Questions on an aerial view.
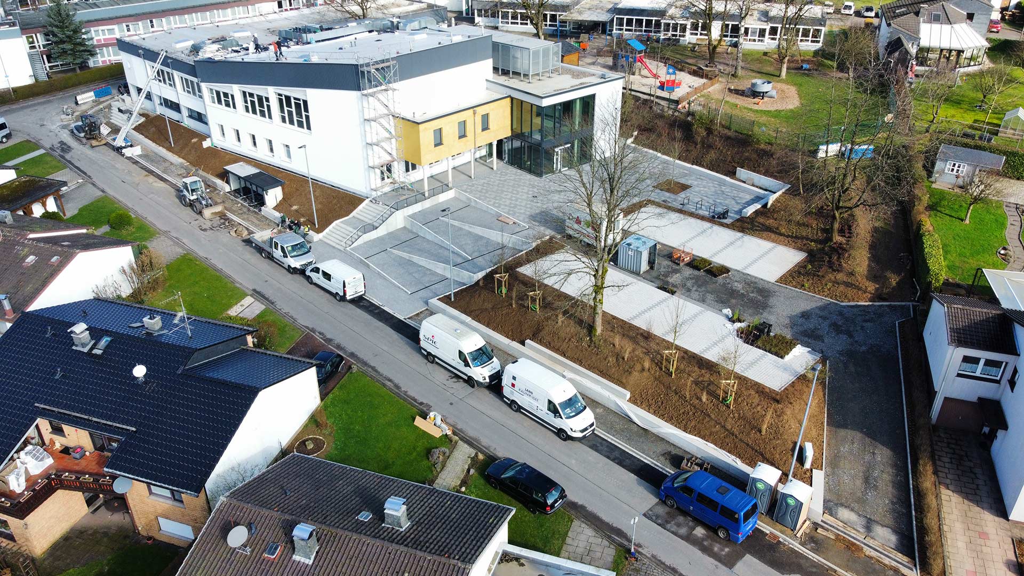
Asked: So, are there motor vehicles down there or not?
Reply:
Yes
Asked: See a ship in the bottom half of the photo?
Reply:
No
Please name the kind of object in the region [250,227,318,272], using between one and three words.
truck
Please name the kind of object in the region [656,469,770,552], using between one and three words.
van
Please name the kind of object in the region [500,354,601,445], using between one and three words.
van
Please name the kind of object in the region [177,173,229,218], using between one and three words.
work vehicle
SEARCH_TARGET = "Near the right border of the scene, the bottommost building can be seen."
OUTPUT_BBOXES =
[916,274,1024,527]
